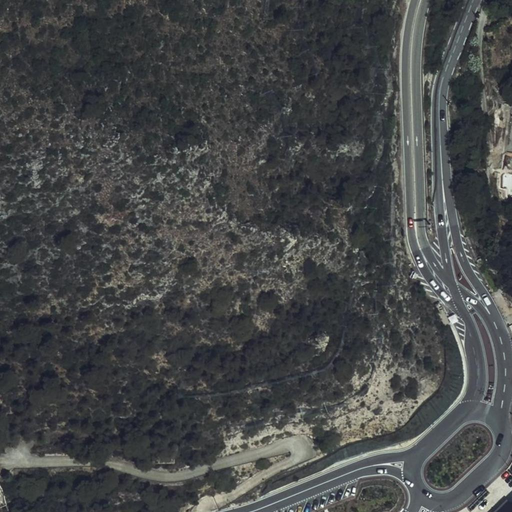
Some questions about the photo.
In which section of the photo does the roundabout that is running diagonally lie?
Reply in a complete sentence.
You can find the roundabout that is running diagonally in the bottom right area of the picture.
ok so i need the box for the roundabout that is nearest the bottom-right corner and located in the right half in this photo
[422,421,494,492]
